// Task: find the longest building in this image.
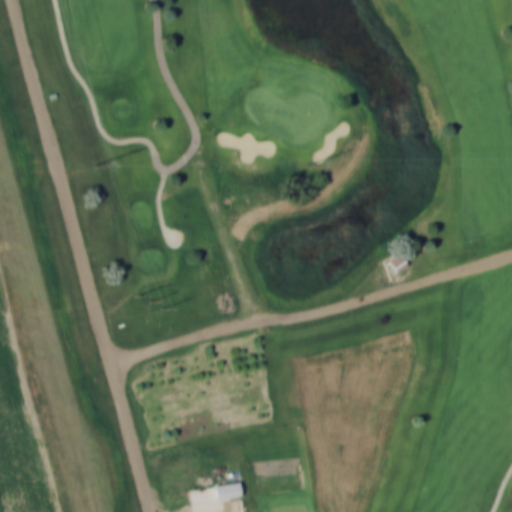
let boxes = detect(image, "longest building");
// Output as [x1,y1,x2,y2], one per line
[216,482,244,501]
